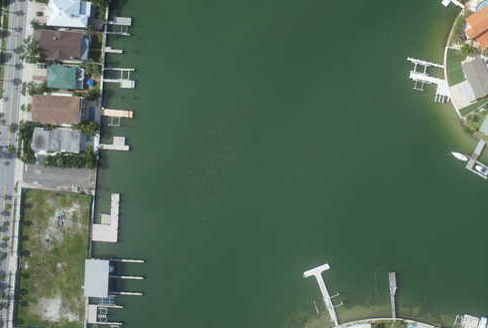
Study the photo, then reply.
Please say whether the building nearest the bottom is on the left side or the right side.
left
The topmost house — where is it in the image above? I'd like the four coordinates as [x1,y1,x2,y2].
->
[47,0,91,27]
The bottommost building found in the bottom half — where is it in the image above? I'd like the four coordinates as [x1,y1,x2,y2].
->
[84,259,111,297]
